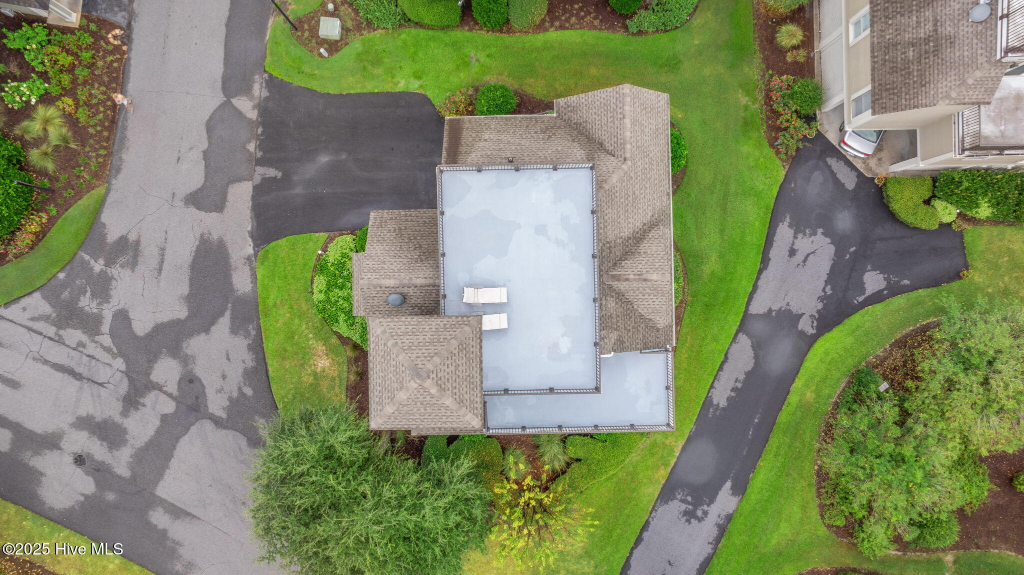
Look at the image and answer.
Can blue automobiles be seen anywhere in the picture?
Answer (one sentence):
No, no blue automobile can be seen from above.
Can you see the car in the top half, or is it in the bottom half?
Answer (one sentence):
The car sits in the top half of the picture.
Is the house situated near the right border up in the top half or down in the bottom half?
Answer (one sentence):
The house situated near the right border sits in the top half of the picture.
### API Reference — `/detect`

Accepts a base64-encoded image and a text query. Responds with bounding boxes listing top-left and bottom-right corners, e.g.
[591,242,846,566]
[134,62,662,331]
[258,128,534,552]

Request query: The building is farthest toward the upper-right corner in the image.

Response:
[814,0,1024,174]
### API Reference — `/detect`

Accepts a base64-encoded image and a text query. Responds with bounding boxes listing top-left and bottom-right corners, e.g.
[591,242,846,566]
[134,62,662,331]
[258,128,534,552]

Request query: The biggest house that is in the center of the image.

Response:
[352,83,679,437]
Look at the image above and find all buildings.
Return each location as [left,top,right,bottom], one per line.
[0,0,81,26]
[814,0,1024,174]
[352,83,679,437]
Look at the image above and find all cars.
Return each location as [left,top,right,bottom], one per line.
[839,130,887,161]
